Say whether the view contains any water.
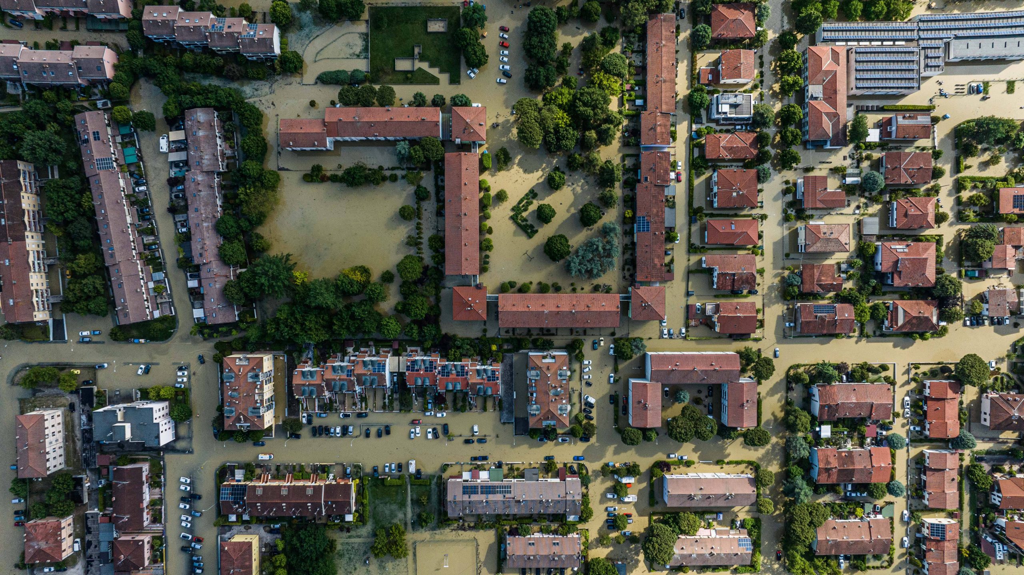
Yes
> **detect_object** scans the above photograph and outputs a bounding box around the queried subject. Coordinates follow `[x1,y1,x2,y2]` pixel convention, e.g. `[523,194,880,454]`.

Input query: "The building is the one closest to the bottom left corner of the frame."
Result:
[23,516,75,564]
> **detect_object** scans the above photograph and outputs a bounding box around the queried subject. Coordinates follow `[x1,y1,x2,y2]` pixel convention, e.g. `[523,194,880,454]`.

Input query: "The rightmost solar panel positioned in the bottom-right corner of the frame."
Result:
[928,522,947,540]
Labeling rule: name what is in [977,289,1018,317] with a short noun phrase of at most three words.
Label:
house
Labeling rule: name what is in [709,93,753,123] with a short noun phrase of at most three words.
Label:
house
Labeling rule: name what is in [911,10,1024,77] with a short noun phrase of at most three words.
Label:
building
